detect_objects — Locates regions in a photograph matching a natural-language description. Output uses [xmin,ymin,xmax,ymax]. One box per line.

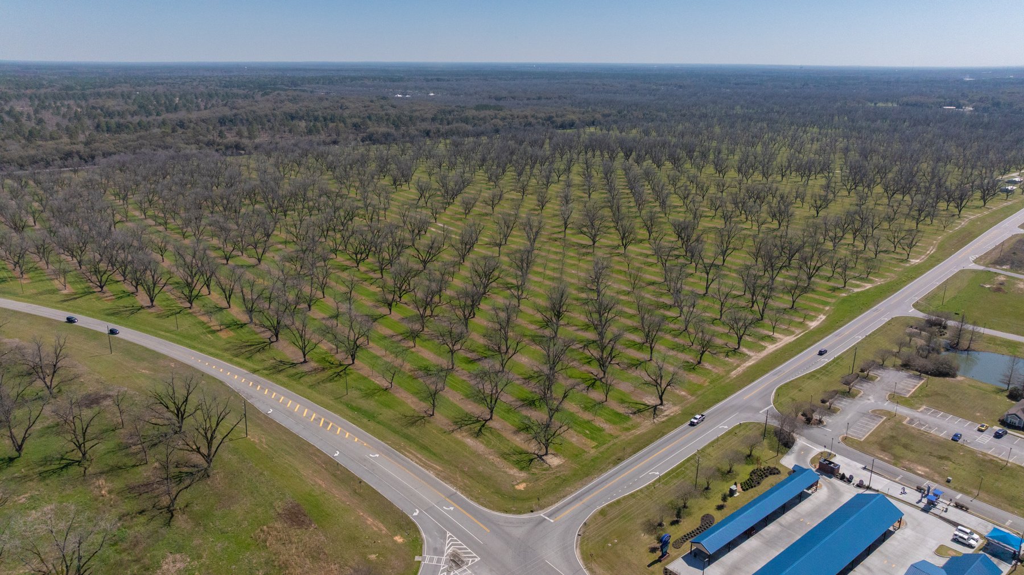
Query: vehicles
[956,524,980,540]
[952,432,963,440]
[690,413,705,424]
[818,347,828,354]
[978,423,988,431]
[65,316,76,322]
[109,328,119,333]
[995,428,1006,437]
[953,530,977,546]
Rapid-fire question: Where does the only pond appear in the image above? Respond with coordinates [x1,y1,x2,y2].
[942,341,1024,387]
